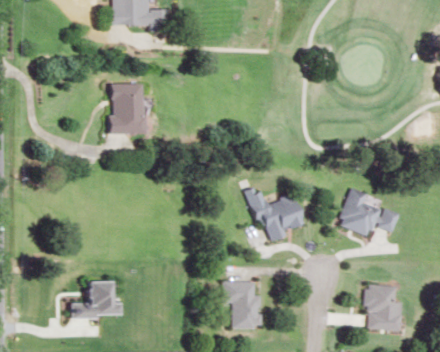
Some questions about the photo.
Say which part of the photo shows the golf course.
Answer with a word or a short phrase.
top right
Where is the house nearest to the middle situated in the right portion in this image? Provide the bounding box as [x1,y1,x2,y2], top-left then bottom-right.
[243,190,304,242]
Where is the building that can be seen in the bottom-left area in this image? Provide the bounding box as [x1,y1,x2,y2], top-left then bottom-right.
[70,282,124,318]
